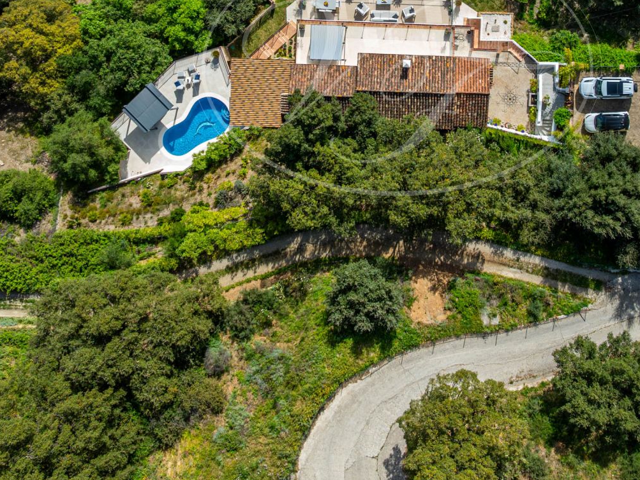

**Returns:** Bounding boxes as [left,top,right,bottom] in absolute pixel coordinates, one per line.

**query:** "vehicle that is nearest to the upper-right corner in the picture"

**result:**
[579,74,640,103]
